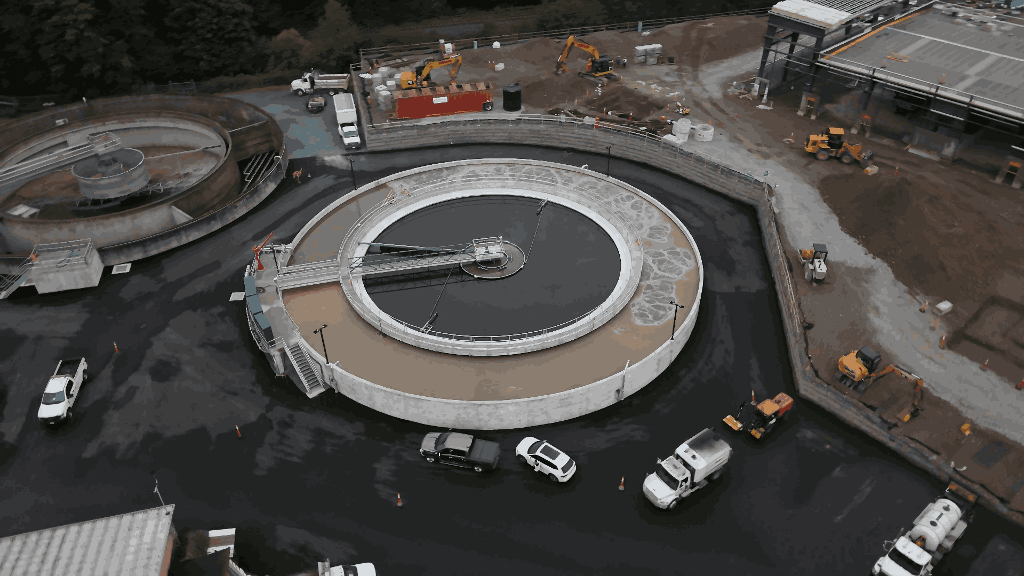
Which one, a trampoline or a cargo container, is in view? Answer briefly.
cargo container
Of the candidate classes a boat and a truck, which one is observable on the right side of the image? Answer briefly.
truck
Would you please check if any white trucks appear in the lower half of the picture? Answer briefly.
Yes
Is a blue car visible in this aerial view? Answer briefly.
No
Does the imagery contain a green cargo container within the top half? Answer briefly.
No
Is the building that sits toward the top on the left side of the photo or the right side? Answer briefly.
right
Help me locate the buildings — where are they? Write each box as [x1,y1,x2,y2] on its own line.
[0,502,190,576]
[751,0,1024,187]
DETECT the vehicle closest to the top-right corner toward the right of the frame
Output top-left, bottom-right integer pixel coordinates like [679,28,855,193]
[806,129,869,164]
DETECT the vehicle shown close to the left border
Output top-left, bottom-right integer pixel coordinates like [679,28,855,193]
[36,361,89,427]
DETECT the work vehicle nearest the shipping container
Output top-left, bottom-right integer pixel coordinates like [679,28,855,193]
[394,51,462,88]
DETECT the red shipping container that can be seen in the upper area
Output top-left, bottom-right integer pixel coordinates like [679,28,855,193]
[386,80,494,118]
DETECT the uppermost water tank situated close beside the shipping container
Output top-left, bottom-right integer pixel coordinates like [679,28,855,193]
[501,80,522,110]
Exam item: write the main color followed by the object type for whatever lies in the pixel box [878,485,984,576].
white truck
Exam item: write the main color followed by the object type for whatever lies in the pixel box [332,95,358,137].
white truck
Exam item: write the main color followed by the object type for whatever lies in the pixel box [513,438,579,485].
white car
